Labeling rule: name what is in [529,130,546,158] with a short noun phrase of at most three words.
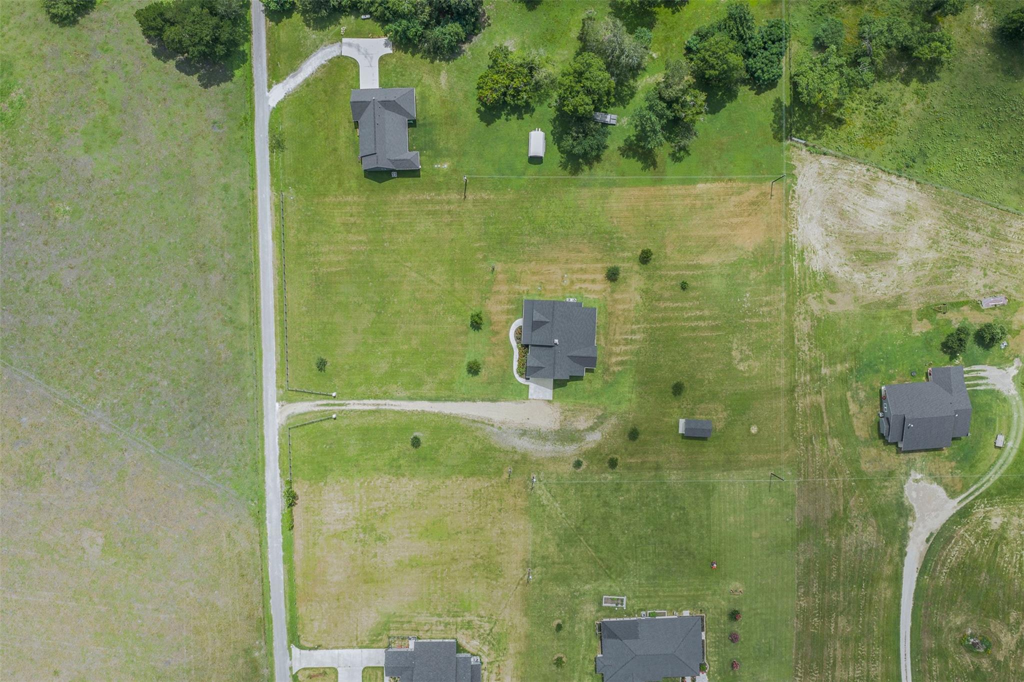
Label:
shed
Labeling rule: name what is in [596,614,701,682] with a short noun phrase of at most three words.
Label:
house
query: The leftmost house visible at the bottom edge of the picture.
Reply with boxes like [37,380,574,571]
[384,639,481,682]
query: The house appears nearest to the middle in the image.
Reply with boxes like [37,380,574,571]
[521,299,598,379]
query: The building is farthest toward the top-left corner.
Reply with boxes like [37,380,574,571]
[350,88,420,170]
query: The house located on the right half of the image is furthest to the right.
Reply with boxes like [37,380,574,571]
[879,366,972,451]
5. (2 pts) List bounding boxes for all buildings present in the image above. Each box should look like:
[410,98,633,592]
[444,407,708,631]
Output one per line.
[350,88,420,170]
[384,639,481,682]
[879,366,972,451]
[521,299,598,379]
[529,130,546,158]
[596,614,701,682]
[678,418,712,437]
